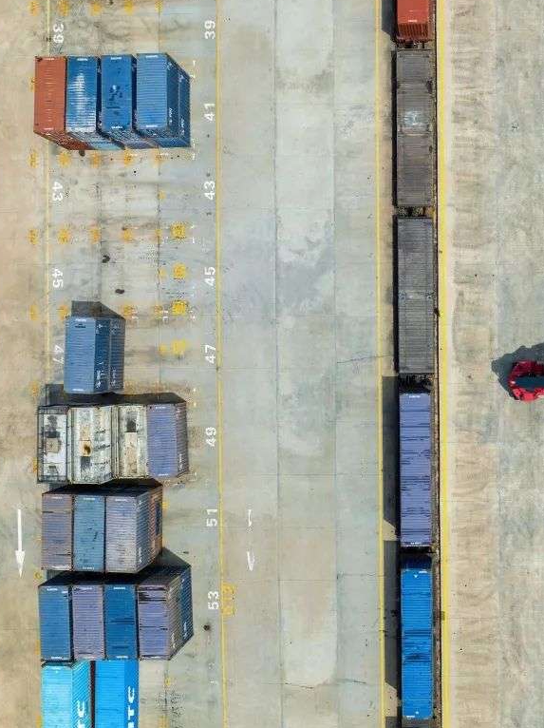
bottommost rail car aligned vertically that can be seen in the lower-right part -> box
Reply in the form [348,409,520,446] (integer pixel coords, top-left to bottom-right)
[400,546,436,707]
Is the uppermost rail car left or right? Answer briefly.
right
